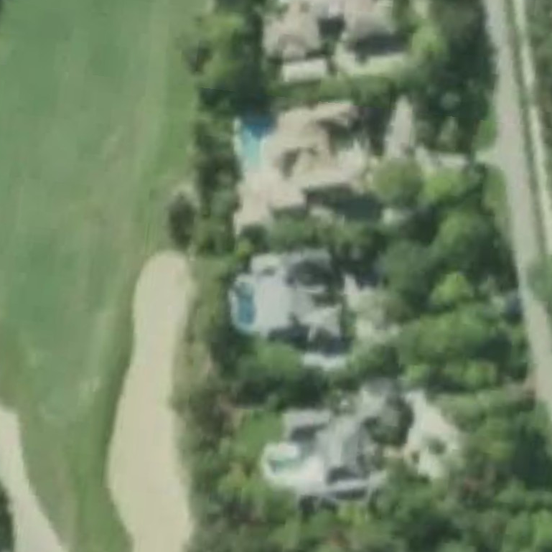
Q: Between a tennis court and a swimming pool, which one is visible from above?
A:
swimming pool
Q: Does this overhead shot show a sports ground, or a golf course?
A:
golf course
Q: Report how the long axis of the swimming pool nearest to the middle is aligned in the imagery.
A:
up and down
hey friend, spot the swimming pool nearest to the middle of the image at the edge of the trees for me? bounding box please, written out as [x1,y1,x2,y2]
[233,277,258,329]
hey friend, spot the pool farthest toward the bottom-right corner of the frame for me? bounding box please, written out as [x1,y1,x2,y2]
[270,456,304,473]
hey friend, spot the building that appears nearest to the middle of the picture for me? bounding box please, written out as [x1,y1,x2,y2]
[254,247,347,340]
